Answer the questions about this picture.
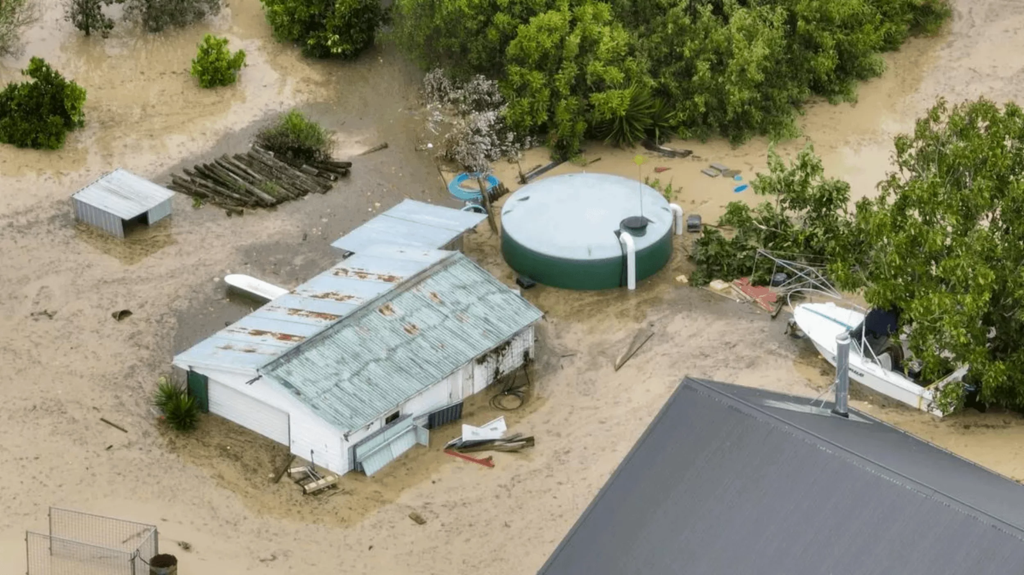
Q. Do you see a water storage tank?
Yes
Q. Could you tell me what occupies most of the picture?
water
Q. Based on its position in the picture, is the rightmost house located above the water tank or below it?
below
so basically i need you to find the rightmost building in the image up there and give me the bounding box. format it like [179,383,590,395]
[543,326,1024,575]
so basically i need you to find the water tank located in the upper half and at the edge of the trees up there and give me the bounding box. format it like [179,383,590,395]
[500,156,682,290]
